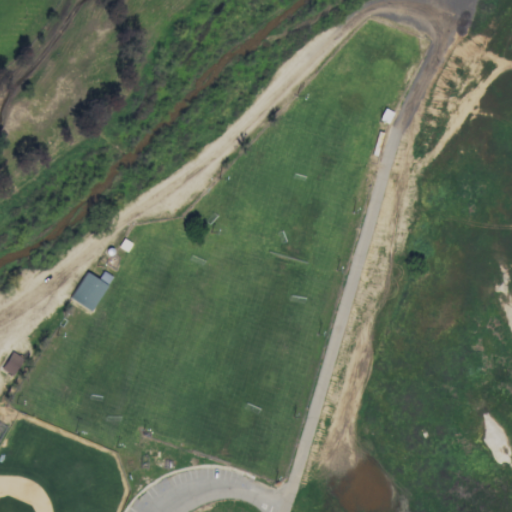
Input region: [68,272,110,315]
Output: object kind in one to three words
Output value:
building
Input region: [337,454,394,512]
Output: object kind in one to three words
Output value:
pond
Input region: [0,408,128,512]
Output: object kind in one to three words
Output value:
baseball field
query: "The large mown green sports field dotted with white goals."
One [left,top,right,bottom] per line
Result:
[13,24,422,480]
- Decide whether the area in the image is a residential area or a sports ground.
sports ground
